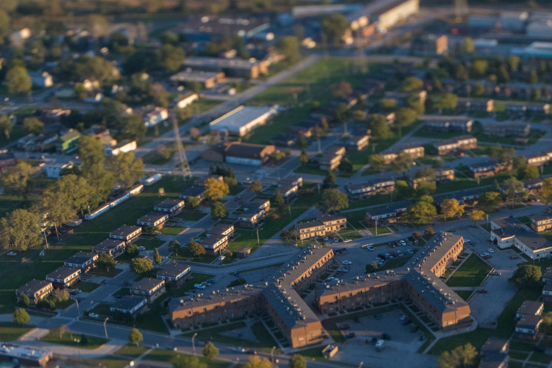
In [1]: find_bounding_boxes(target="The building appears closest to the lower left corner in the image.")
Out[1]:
[0,341,55,368]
